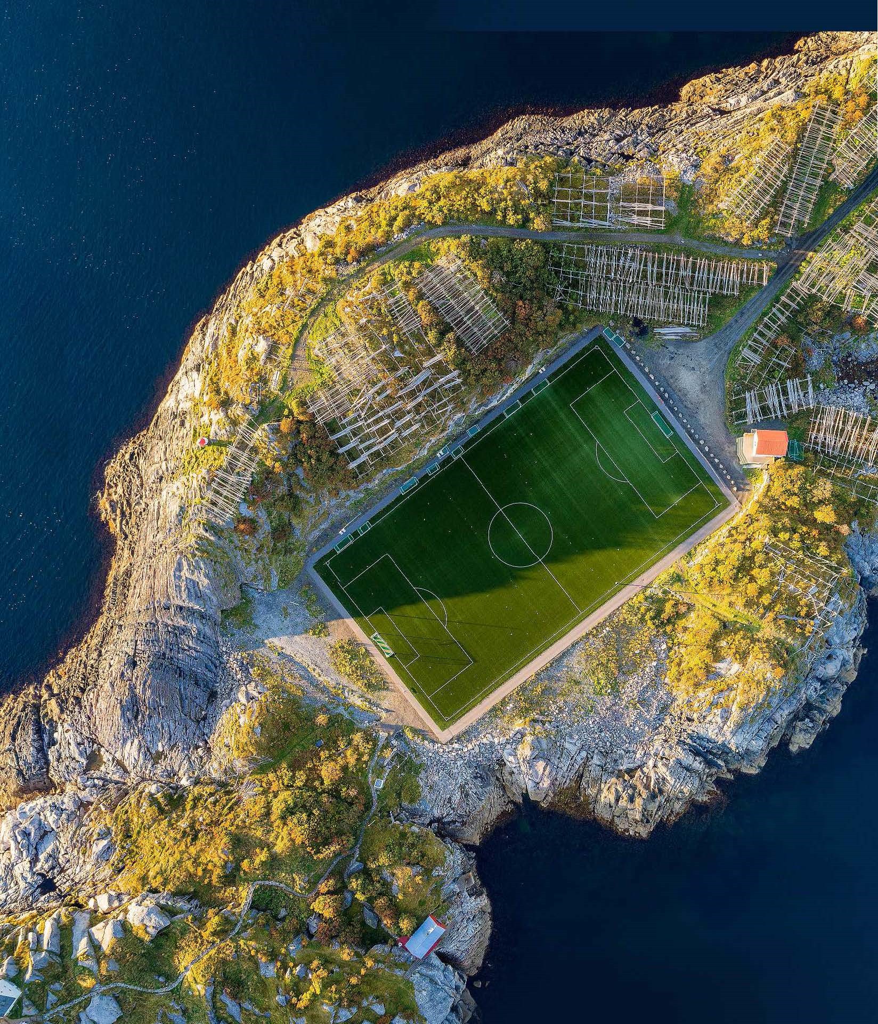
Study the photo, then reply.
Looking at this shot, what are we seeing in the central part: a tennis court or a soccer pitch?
soccer pitch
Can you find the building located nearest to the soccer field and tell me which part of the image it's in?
right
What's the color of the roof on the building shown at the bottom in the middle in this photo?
blue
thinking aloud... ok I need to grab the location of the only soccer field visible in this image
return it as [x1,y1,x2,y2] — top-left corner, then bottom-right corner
[313,338,730,731]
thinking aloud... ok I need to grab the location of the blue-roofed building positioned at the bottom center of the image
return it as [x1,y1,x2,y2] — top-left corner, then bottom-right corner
[402,912,445,956]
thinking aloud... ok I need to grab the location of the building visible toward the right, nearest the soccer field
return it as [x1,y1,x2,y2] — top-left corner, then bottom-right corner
[737,430,790,468]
